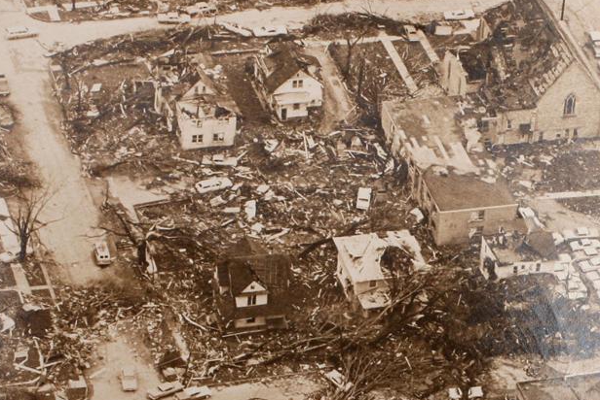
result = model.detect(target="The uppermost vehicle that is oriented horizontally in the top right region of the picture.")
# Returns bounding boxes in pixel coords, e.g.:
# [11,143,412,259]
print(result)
[441,8,478,21]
